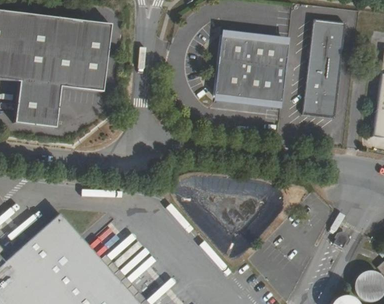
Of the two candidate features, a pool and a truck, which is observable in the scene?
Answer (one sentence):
Of the two, only a truck appears.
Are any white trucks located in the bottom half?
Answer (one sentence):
Yes, you'll find a white truck in the bottom half.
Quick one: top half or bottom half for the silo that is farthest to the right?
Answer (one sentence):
You can find the silo that is farthest to the right in the bottom half.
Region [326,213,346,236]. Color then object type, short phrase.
white vehicle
